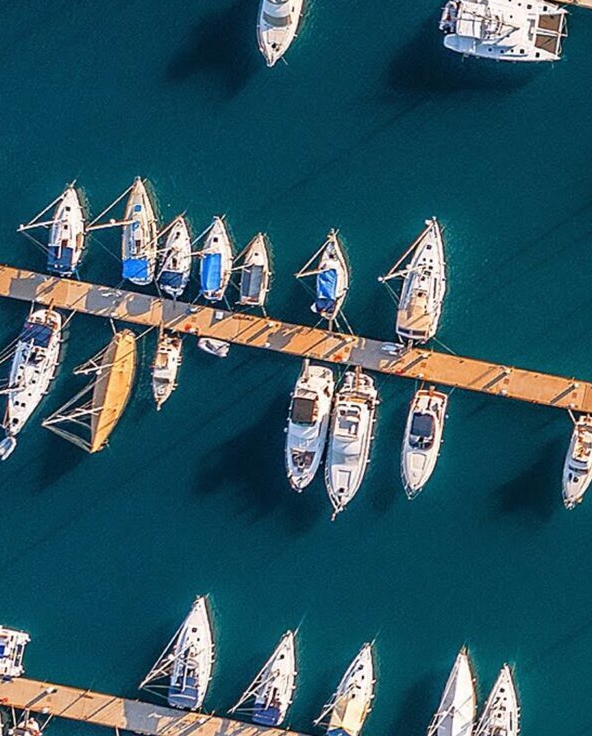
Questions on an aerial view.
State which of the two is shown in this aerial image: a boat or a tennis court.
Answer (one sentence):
The image shows a boat.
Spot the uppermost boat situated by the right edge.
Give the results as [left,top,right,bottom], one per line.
[444,0,574,69]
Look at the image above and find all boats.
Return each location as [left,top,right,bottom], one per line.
[227,629,302,729]
[183,213,236,312]
[561,410,592,513]
[295,227,354,335]
[380,216,456,353]
[436,1,458,37]
[285,359,344,496]
[400,381,458,502]
[148,324,184,414]
[227,230,276,319]
[45,319,155,451]
[323,366,384,517]
[197,335,230,355]
[0,436,15,463]
[10,707,51,736]
[0,301,77,437]
[258,0,310,69]
[86,174,163,297]
[140,593,219,711]
[0,626,32,676]
[18,182,91,283]
[444,0,574,69]
[471,663,522,736]
[426,647,480,736]
[139,213,198,306]
[312,638,379,736]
